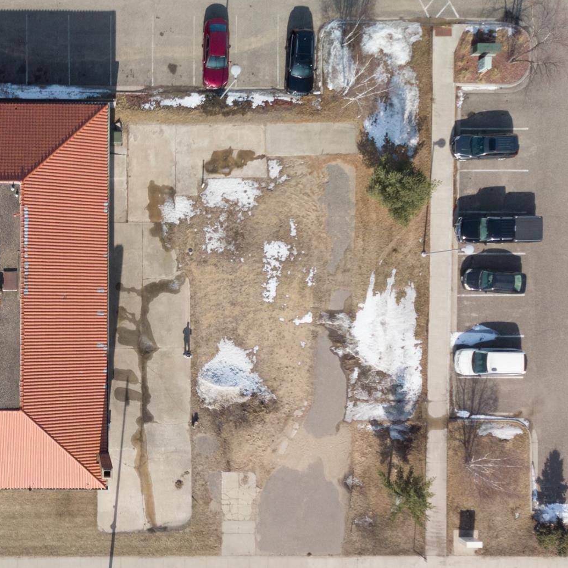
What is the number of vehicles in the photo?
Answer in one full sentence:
The count of vehicles comes to 6.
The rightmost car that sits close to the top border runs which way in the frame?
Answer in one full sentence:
The rightmost car that sits close to the top border runs up and down in the image.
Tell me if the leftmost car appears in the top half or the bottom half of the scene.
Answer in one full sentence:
The leftmost car is in the top half of the image.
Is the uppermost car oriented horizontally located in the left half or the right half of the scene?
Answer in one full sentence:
The uppermost car oriented horizontally is on the right side of the image.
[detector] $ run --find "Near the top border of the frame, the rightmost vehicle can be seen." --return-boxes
[283,27,318,96]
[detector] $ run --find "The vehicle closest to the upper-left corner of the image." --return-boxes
[199,18,232,92]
